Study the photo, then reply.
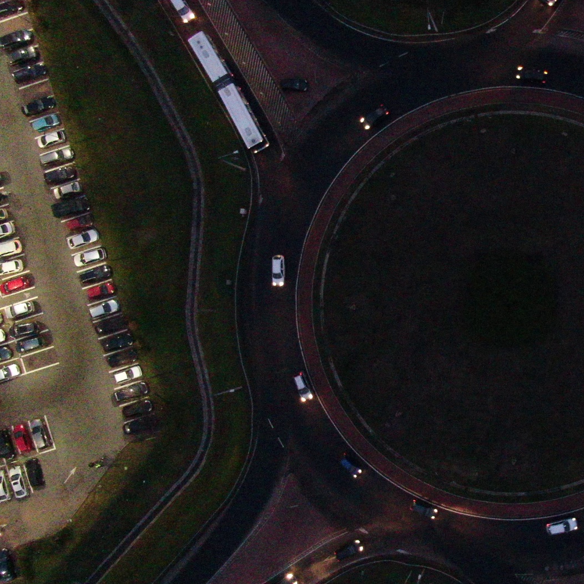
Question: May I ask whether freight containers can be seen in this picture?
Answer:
No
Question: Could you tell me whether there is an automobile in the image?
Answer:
Yes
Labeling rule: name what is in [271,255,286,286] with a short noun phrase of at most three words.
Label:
car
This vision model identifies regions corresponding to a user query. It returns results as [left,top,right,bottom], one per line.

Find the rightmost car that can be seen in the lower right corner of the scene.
[548,517,576,534]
